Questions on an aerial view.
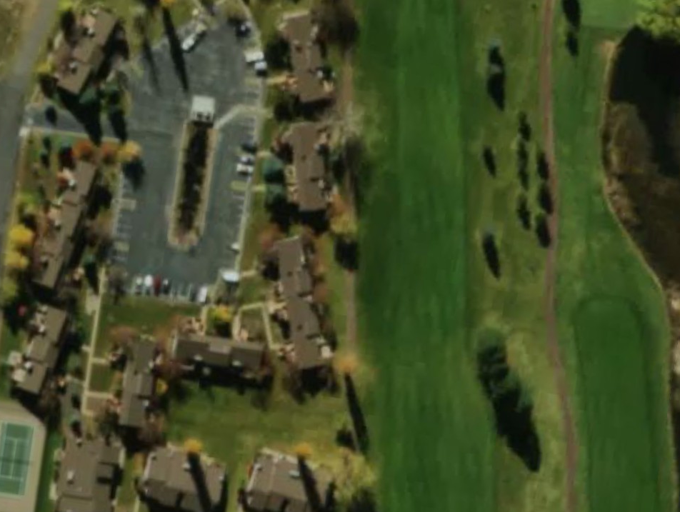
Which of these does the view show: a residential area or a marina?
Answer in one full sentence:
This looks like a residential area.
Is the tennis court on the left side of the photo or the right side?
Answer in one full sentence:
You can find the tennis court on the left side of the picture.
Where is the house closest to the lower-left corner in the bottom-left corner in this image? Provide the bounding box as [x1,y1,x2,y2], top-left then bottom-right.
[46,436,119,512]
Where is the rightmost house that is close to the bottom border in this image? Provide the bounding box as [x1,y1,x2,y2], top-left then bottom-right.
[243,441,338,512]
